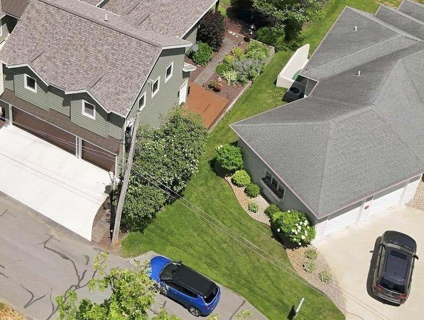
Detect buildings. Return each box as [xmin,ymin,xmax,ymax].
[0,0,220,167]
[228,0,424,242]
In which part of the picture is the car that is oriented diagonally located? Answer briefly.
bottom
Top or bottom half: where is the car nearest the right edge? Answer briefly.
bottom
